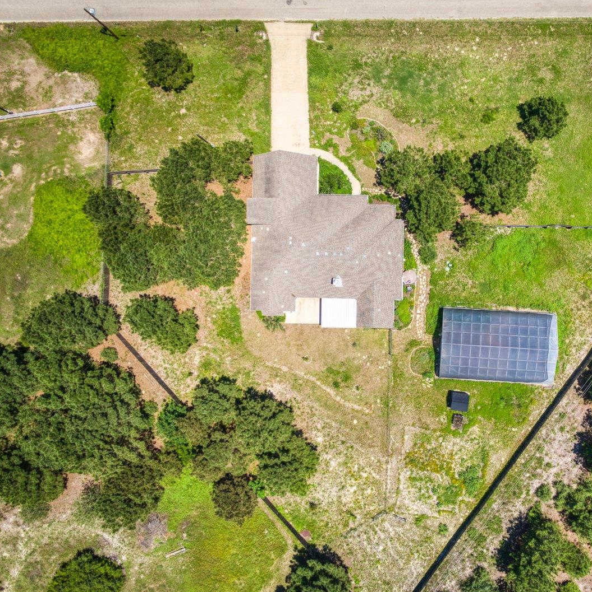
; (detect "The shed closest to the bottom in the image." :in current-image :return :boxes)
[450,391,469,412]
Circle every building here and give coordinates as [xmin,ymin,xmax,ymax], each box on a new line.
[432,306,557,386]
[450,391,469,412]
[246,148,404,328]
